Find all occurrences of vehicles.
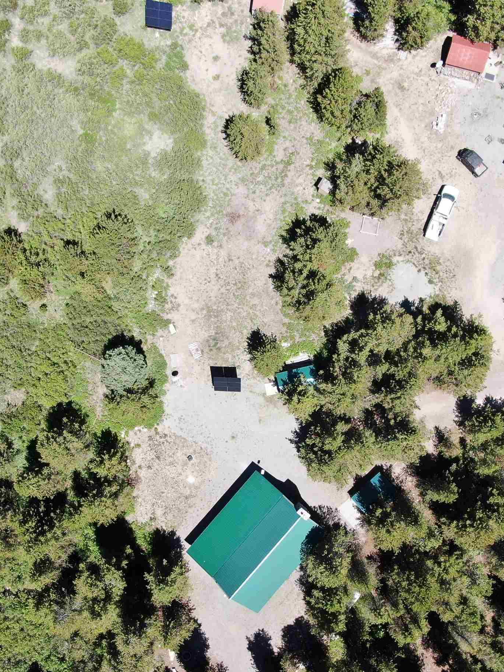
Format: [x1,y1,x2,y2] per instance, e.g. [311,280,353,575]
[455,147,488,178]
[422,183,460,245]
